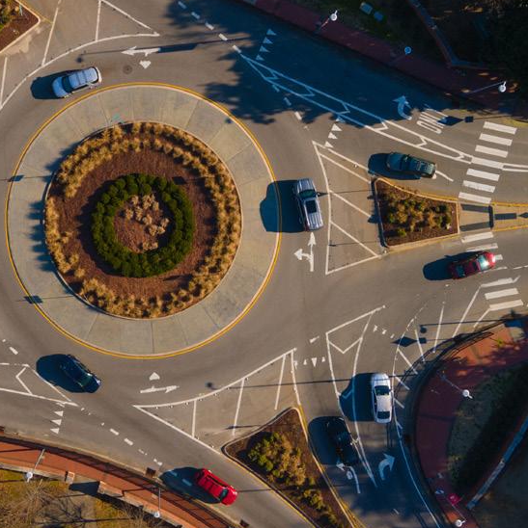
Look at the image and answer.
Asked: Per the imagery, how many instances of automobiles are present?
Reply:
8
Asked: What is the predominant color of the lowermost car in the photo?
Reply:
red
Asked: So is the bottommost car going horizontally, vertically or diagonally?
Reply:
diagonally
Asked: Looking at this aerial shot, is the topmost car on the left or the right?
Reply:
left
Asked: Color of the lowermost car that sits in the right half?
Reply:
black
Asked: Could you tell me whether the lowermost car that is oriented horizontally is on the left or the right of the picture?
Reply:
right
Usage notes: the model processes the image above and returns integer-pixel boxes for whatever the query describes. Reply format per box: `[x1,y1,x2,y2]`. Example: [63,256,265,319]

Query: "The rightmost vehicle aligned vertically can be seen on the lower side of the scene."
[370,372,395,423]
